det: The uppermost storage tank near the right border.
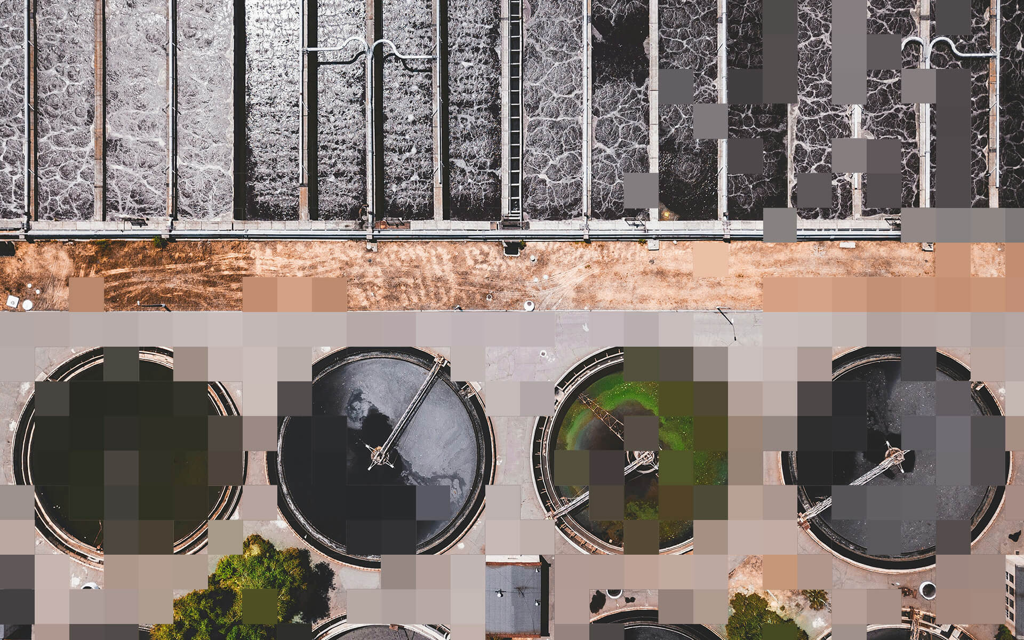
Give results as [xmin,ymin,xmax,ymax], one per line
[780,343,1013,575]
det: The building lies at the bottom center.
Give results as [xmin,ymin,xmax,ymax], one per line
[484,547,542,639]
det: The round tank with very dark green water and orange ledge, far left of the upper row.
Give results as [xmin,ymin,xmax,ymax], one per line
[11,341,247,577]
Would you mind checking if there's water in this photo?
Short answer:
Yes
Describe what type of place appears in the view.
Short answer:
industrial area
